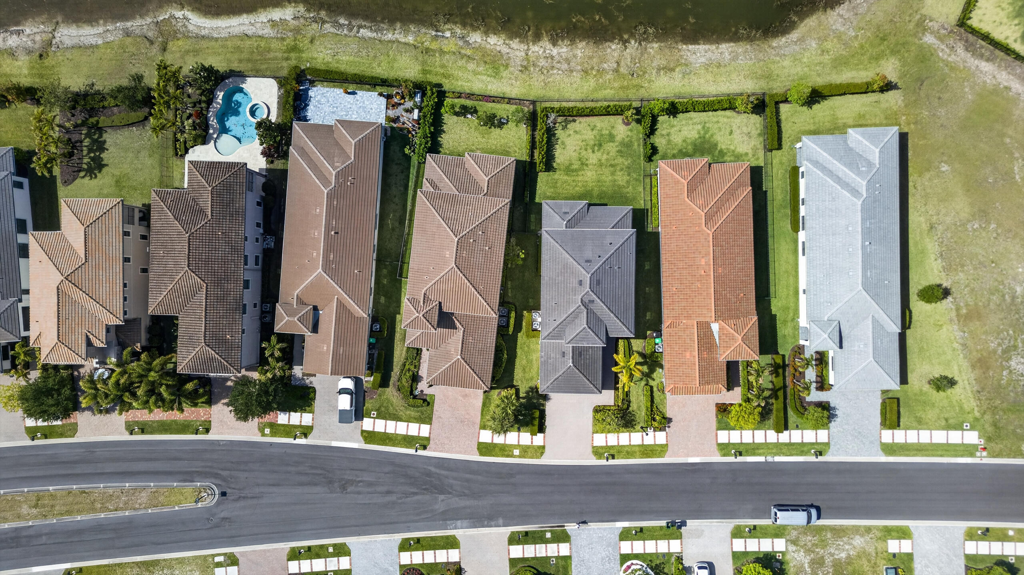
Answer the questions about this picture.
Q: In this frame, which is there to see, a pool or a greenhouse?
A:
pool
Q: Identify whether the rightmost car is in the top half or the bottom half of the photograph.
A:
bottom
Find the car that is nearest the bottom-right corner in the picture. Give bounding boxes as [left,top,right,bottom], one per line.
[769,506,814,527]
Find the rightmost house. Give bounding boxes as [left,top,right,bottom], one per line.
[795,125,902,391]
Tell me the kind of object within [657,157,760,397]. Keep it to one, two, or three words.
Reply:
house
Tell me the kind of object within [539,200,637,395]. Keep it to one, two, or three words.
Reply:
house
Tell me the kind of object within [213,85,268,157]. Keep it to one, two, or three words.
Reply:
swimming pool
